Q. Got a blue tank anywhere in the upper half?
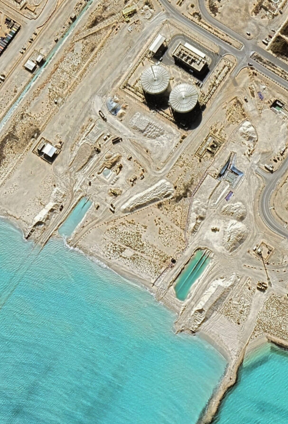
No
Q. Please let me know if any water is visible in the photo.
Yes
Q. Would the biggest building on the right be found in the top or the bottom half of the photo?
top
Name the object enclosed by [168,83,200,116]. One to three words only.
storage tank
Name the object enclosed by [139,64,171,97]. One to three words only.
storage tank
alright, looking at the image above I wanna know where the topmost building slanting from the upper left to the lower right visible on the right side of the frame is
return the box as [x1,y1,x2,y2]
[174,44,209,71]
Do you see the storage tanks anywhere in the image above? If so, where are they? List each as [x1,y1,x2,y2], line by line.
[139,64,171,97]
[168,83,200,116]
